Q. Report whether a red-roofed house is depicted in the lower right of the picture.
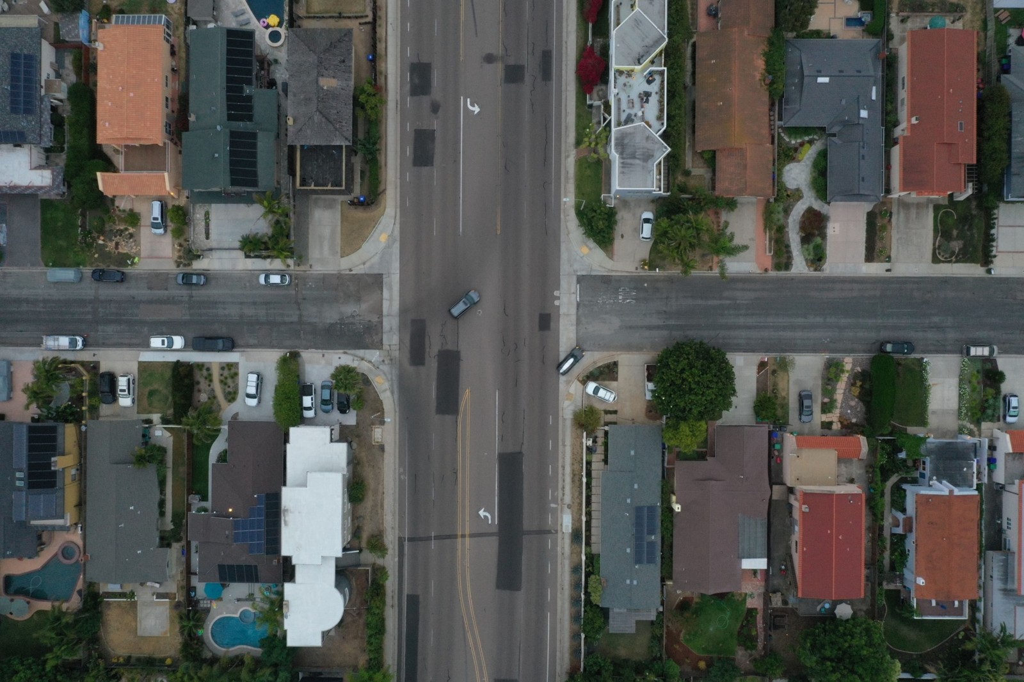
Yes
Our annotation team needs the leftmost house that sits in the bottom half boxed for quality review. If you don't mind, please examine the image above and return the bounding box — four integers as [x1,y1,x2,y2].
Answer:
[0,422,86,560]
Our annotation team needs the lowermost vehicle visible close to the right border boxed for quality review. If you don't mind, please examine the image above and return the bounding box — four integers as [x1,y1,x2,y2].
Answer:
[1003,393,1020,423]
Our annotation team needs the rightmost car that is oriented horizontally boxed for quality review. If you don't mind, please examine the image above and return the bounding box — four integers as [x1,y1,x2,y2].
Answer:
[961,344,997,358]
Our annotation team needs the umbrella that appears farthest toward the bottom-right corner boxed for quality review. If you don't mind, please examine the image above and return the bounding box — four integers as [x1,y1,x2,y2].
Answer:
[832,601,851,619]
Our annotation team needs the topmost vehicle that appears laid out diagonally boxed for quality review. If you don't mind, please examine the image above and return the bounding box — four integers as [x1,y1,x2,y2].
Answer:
[448,290,480,318]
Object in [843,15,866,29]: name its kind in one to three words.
swimming pool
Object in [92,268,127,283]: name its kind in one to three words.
car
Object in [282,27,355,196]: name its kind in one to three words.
house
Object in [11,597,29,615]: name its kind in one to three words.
umbrella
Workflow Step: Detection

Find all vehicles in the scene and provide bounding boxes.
[119,374,136,405]
[640,211,653,241]
[336,390,351,416]
[584,380,617,403]
[879,341,913,355]
[41,335,87,351]
[448,290,480,318]
[193,336,235,352]
[302,382,316,418]
[150,201,167,234]
[0,204,10,246]
[151,335,186,349]
[1003,393,1020,423]
[92,268,127,283]
[961,344,997,358]
[48,269,83,282]
[245,371,262,406]
[319,380,333,412]
[177,272,208,286]
[99,371,117,404]
[555,346,584,375]
[798,390,813,423]
[260,272,291,286]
